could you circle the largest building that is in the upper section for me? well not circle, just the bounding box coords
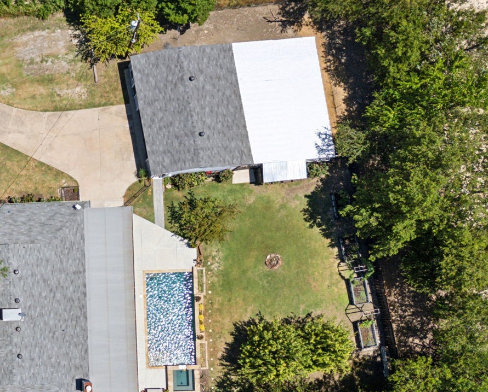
[129,36,334,182]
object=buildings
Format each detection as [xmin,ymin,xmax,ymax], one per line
[0,200,139,392]
[129,36,334,182]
